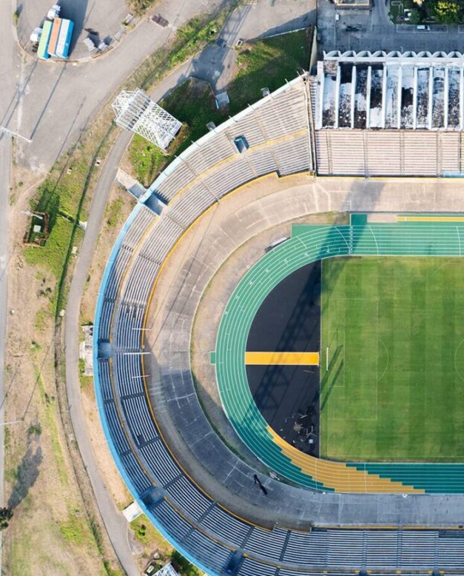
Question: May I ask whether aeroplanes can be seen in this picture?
No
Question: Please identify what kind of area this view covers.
sports ground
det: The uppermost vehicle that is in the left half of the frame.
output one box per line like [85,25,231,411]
[46,5,61,22]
